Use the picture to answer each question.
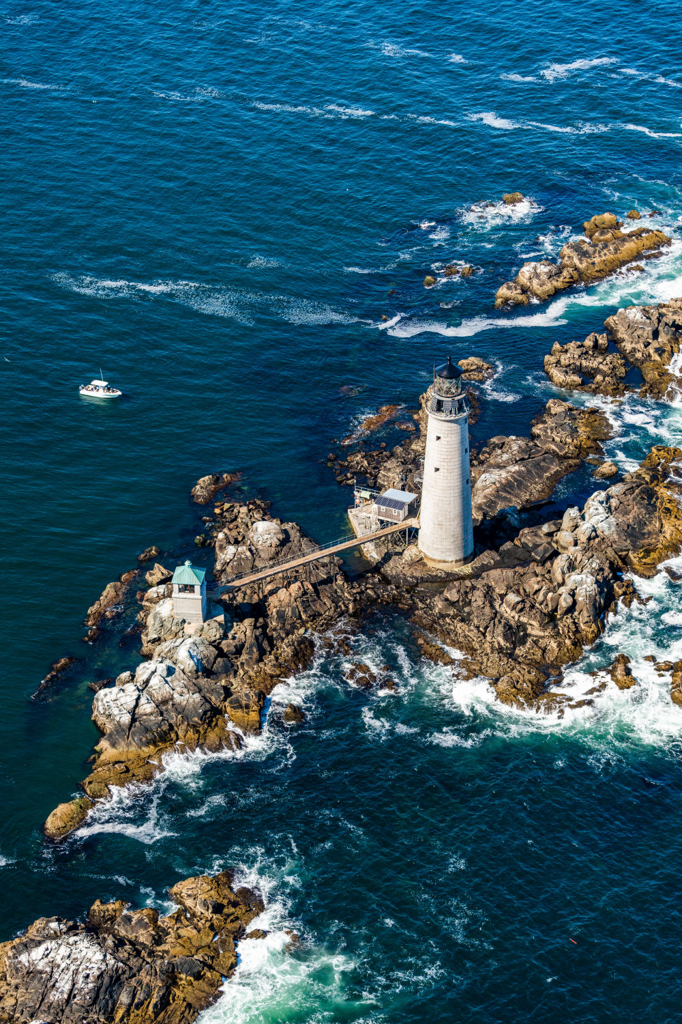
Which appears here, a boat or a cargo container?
boat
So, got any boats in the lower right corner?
No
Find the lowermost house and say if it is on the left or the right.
left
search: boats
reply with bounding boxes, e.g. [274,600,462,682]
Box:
[75,369,121,398]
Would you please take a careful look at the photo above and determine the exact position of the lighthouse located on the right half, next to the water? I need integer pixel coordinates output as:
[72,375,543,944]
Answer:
[411,356,476,571]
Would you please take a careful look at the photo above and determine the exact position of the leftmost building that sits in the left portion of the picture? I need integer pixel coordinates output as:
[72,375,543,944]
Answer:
[172,560,209,623]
